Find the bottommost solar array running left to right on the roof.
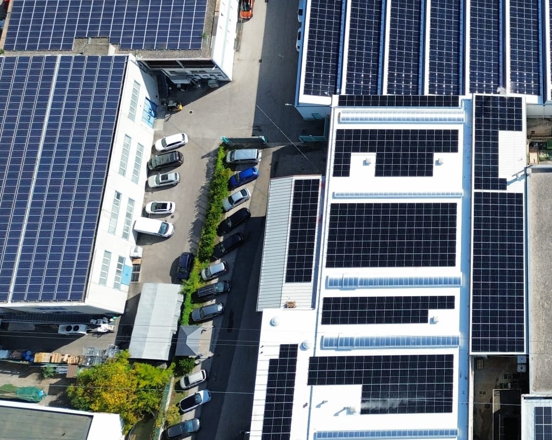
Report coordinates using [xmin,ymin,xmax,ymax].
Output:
[307,354,453,413]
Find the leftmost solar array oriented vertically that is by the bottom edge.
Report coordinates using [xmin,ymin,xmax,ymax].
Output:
[262,344,298,440]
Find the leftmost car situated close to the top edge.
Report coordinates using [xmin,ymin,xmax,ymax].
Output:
[237,0,255,20]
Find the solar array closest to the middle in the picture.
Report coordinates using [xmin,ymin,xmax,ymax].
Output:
[286,179,319,282]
